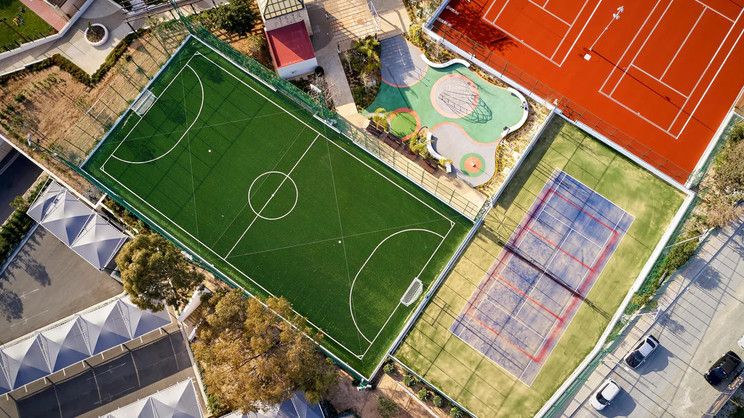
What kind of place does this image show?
sports ground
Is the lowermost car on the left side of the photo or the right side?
right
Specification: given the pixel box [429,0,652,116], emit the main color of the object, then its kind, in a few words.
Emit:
orange tennis court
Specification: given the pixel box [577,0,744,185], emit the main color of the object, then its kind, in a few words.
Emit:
orange tennis court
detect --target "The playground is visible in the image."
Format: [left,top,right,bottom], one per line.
[365,35,525,188]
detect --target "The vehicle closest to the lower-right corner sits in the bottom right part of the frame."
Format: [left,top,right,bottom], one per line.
[706,349,744,390]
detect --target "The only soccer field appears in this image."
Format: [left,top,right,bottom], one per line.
[82,37,477,379]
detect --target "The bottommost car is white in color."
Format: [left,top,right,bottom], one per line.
[591,377,625,413]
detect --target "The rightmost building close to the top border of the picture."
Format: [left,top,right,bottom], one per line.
[253,0,318,79]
